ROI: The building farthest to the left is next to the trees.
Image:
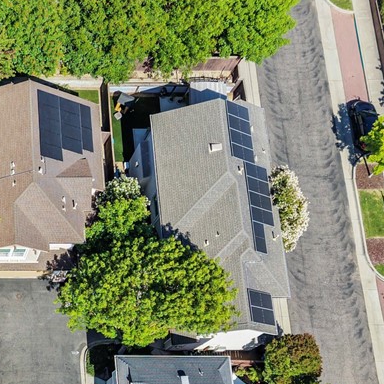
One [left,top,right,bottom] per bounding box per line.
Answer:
[0,79,106,283]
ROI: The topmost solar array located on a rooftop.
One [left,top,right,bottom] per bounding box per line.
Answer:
[38,88,94,160]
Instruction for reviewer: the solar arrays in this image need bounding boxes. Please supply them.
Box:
[249,289,276,325]
[228,100,275,253]
[38,88,94,160]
